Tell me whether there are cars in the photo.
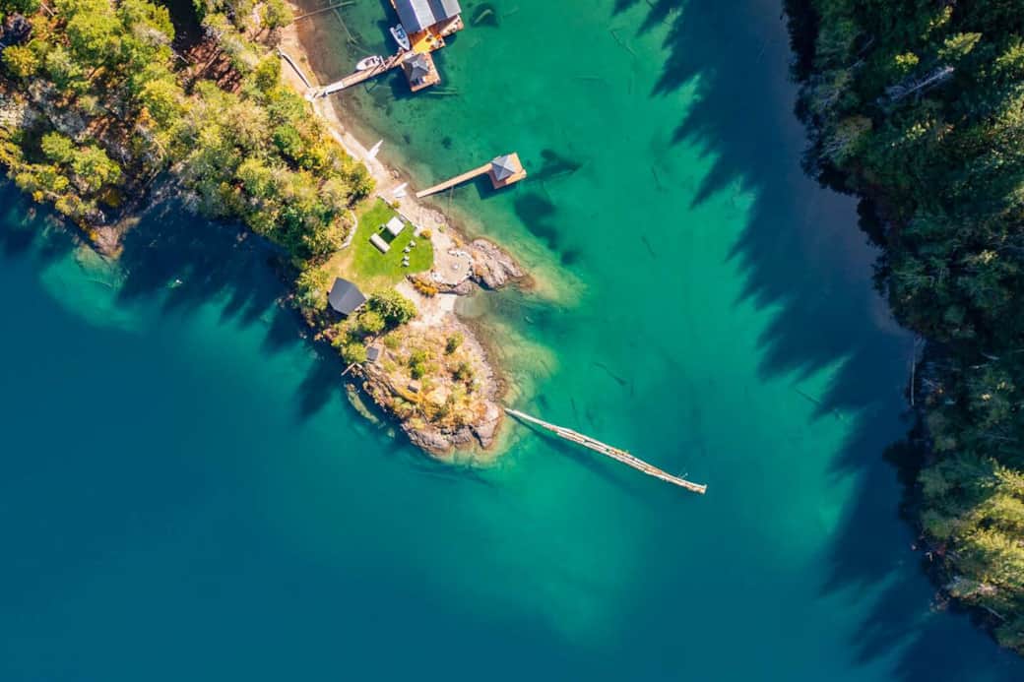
No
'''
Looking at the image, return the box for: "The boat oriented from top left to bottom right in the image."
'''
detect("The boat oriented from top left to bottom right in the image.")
[391,24,409,50]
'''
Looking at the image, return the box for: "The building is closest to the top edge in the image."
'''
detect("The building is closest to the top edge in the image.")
[389,0,464,53]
